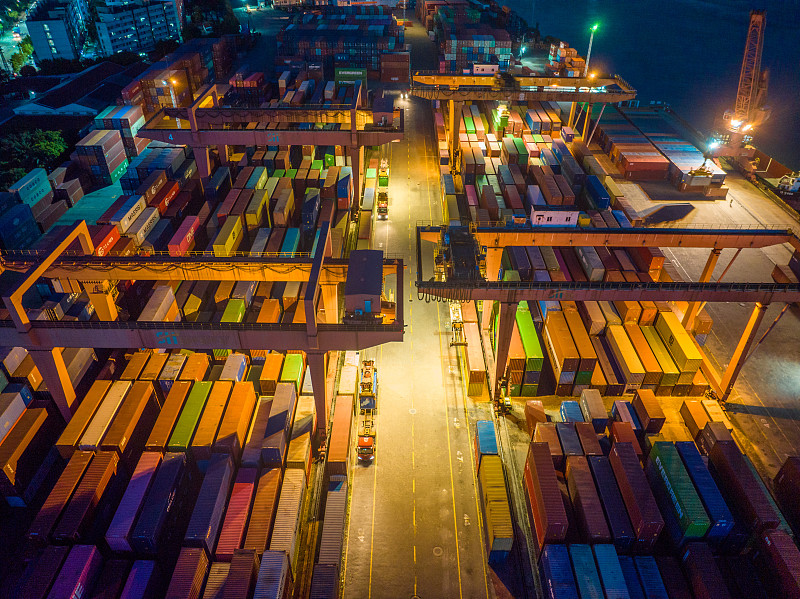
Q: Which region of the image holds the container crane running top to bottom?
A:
top right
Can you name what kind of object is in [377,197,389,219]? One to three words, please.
vehicle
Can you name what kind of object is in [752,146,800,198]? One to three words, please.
ship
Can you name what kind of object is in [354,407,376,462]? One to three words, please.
truck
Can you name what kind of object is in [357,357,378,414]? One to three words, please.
truck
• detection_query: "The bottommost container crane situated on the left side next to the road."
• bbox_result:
[0,223,402,457]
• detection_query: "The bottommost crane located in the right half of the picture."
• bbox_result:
[418,204,800,408]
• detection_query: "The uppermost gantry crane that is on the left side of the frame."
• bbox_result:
[130,80,402,220]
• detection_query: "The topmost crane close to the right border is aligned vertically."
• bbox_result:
[692,6,767,182]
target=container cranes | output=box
[0,223,402,457]
[692,6,767,182]
[130,80,402,220]
[412,59,640,174]
[418,204,800,408]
